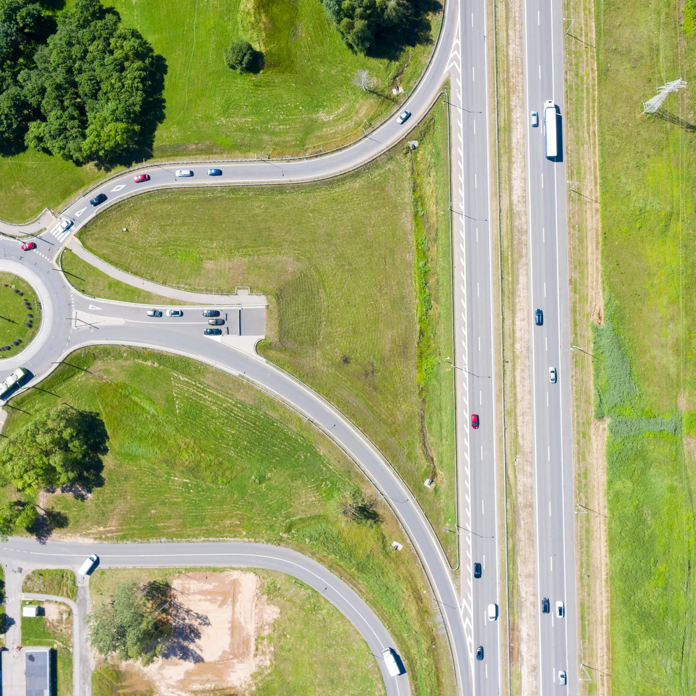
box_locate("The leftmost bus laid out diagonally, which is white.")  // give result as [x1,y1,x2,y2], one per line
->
[0,369,29,398]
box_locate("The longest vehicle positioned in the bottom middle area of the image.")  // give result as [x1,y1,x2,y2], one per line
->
[383,647,399,679]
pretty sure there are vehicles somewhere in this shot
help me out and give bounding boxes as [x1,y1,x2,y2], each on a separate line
[90,195,105,206]
[543,102,555,159]
[542,597,548,613]
[203,310,219,316]
[208,170,221,176]
[176,171,191,177]
[133,175,148,183]
[59,217,74,232]
[488,604,496,621]
[474,563,481,577]
[204,327,221,335]
[209,319,224,325]
[558,670,564,685]
[0,369,29,398]
[77,555,97,576]
[22,243,36,250]
[396,111,410,124]
[548,368,556,383]
[383,647,399,679]
[535,310,542,325]
[531,112,537,126]
[471,414,477,428]
[476,645,483,661]
[557,601,563,617]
